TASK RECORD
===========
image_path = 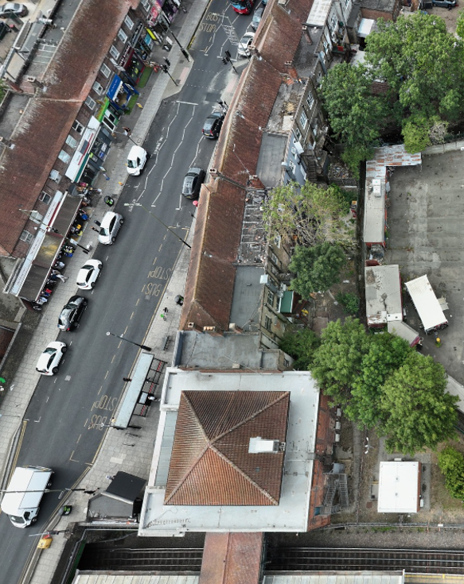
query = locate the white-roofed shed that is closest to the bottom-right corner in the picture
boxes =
[378,457,424,512]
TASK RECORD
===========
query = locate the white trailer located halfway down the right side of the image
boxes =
[404,275,452,336]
